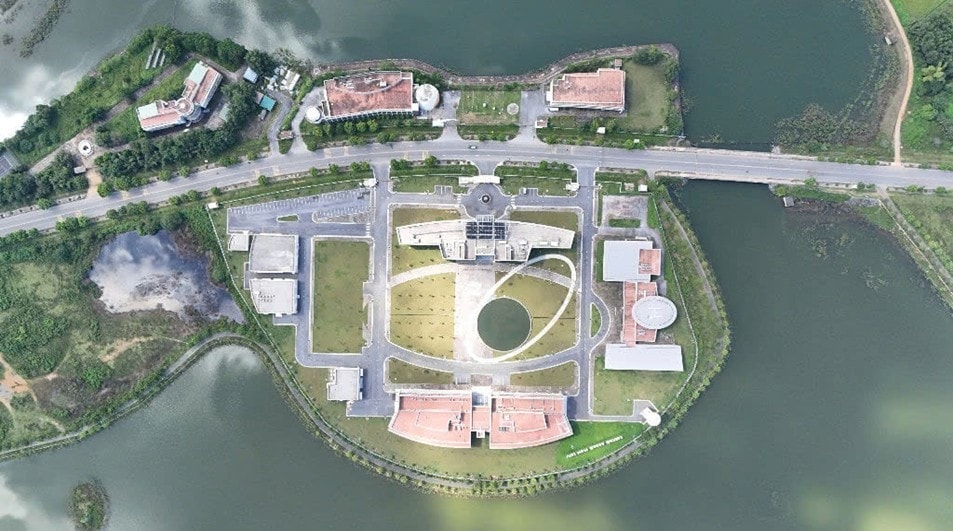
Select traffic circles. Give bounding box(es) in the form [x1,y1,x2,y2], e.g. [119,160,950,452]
[467,182,504,216]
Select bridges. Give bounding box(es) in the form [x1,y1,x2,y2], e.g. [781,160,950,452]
[690,146,772,184]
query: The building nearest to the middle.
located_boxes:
[396,215,575,261]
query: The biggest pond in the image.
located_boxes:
[90,228,247,324]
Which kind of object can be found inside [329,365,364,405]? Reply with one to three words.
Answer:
building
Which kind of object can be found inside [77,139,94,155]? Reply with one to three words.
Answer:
fountain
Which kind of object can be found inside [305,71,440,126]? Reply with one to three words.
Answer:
building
